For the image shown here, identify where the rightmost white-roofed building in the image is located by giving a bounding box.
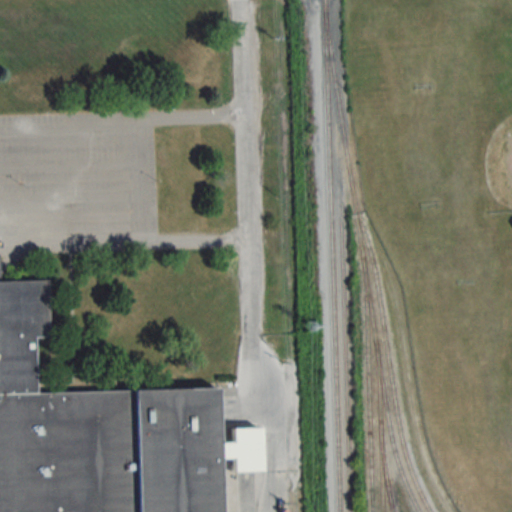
[225,427,266,473]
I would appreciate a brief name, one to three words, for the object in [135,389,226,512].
building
